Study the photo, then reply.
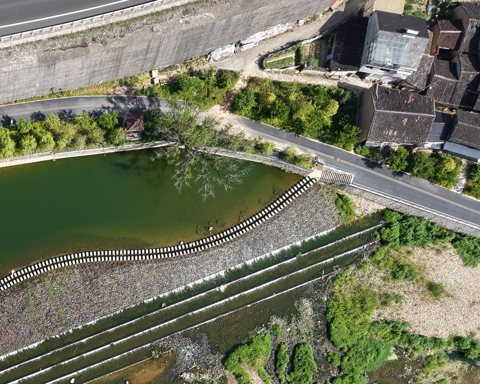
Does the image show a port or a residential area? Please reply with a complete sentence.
This image shows a residential area.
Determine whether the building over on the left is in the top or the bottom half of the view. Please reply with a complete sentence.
Seen from above, the building over on the left lies in the top half of the view.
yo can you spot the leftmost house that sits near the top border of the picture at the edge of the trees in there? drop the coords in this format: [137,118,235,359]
[324,16,371,80]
